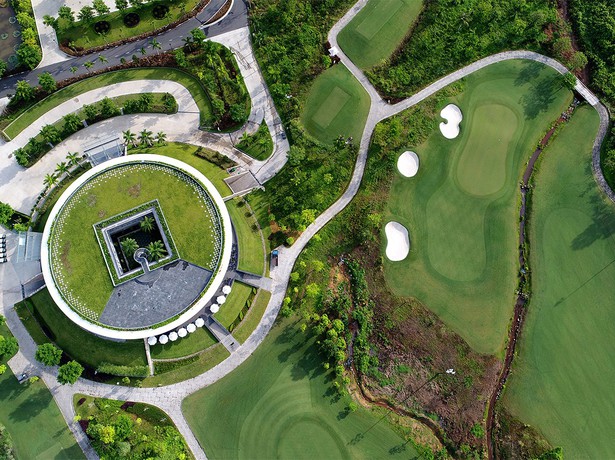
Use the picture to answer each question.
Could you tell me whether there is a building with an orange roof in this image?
No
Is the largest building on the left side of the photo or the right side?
left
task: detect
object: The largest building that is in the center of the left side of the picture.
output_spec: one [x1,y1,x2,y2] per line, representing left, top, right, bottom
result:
[41,153,232,337]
